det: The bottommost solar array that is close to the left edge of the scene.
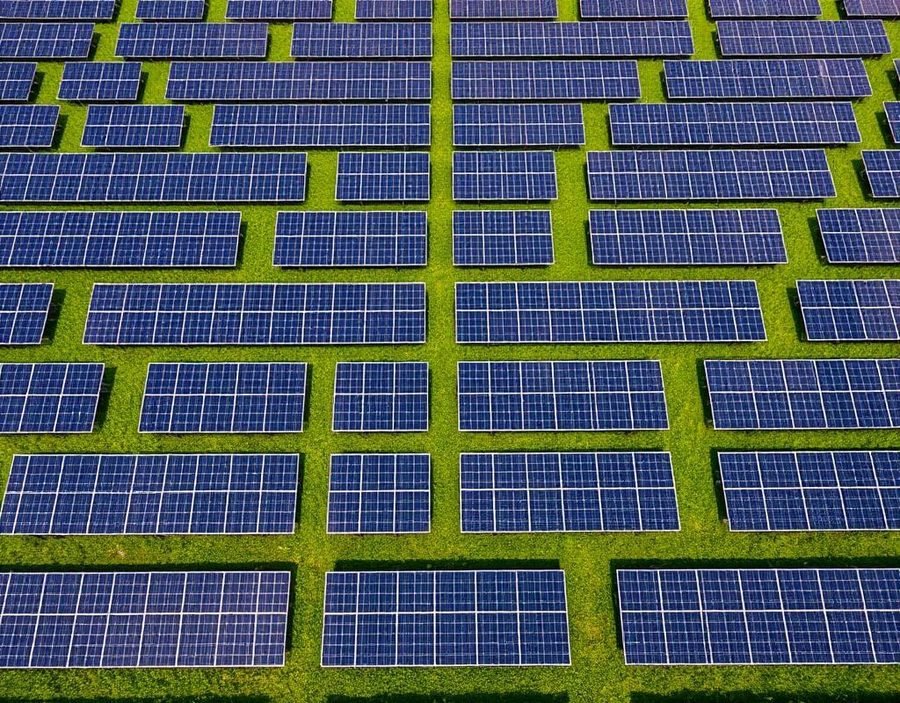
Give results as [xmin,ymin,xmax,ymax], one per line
[0,571,290,669]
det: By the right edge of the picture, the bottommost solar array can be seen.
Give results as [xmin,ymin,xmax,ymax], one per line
[617,567,900,664]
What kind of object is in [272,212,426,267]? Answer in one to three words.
solar array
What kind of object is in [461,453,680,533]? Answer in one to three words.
solar array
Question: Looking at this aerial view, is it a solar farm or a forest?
solar farm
